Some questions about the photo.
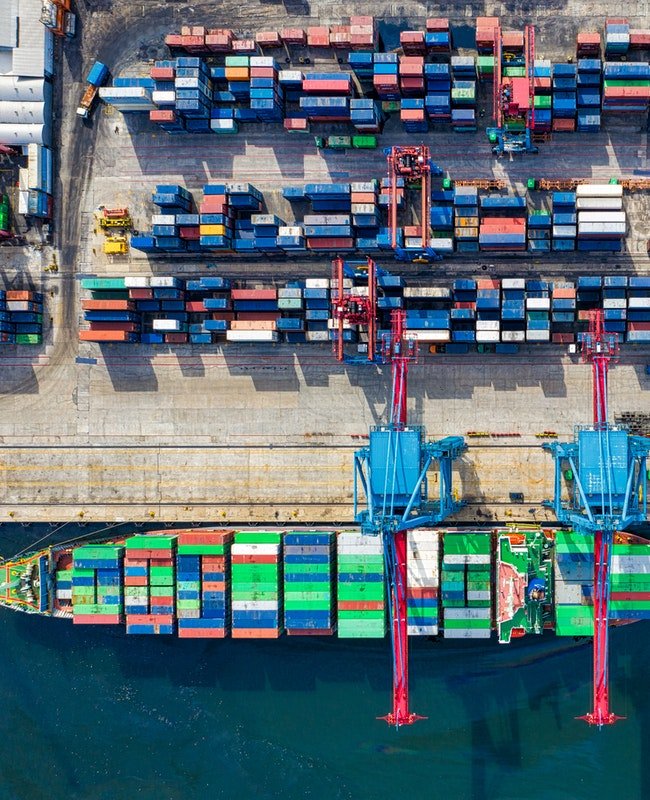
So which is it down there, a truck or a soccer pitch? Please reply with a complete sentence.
Looking from above, you can make out a truck.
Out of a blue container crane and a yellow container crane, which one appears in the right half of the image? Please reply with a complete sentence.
Visible in the right half of the image is a blue container crane.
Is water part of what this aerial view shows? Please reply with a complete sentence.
Yes, the picture does contain water.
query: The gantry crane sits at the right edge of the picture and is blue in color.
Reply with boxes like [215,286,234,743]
[541,308,650,729]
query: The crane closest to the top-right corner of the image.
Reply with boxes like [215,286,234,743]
[489,23,541,152]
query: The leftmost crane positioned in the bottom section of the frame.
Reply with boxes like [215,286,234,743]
[350,307,468,728]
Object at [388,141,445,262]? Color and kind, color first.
red container crane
